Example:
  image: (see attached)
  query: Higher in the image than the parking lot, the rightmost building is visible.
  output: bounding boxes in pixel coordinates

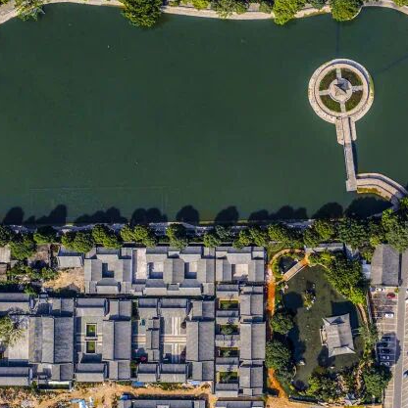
[371,245,399,286]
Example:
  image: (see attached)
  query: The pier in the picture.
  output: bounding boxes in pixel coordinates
[356,172,406,210]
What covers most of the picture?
water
